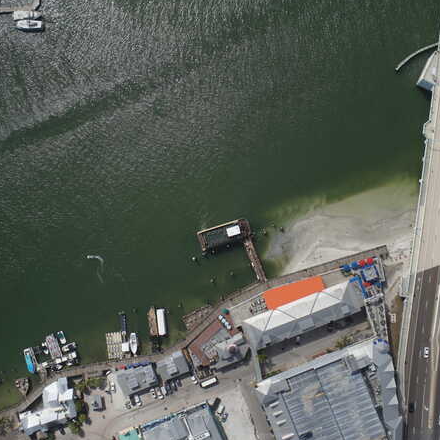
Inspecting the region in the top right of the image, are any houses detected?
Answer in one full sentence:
No, in the top right of the image there is no house.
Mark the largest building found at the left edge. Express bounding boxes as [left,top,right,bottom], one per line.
[21,405,78,434]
